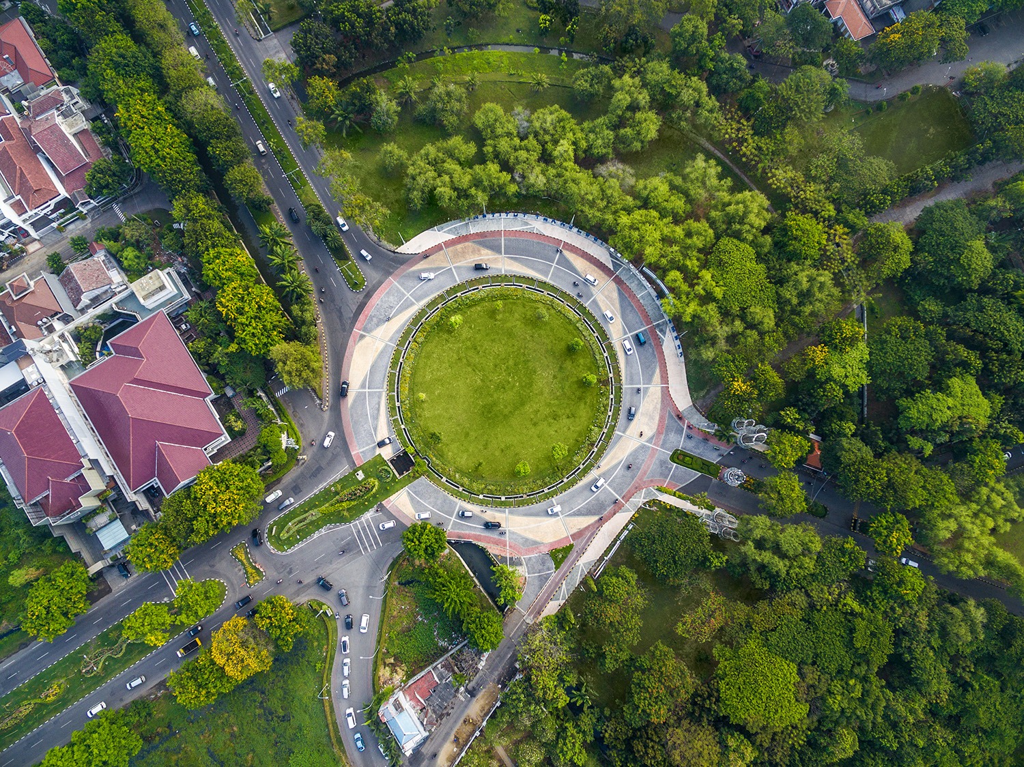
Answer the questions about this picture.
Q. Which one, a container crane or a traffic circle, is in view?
traffic circle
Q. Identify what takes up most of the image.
trees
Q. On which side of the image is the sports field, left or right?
right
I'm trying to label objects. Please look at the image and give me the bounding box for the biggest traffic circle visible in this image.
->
[341,230,671,555]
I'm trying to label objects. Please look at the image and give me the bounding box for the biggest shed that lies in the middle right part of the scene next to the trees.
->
[802,434,822,473]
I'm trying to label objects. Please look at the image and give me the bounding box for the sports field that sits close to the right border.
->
[856,85,978,174]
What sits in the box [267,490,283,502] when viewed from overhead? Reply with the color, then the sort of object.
white vehicle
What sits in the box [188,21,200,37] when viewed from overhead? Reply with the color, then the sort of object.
blue vehicle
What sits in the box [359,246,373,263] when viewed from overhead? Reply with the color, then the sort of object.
white vehicle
